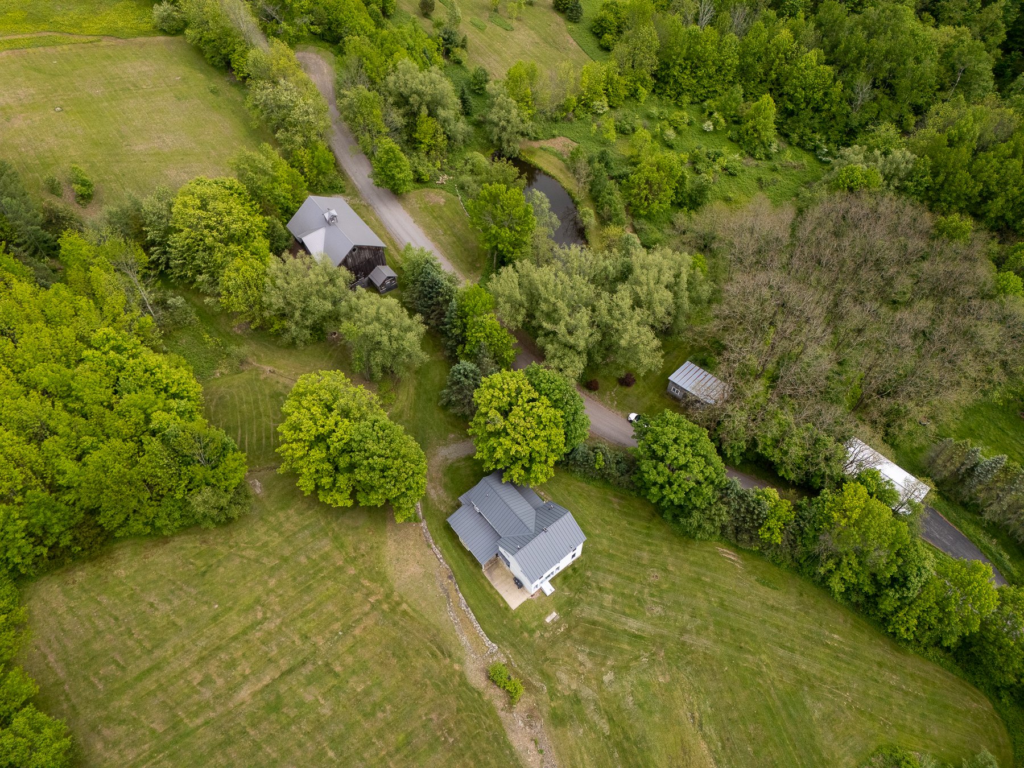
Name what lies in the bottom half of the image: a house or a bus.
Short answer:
house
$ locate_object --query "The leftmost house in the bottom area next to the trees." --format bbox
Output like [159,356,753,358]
[445,473,587,594]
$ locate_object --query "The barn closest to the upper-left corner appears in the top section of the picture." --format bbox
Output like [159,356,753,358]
[287,195,386,289]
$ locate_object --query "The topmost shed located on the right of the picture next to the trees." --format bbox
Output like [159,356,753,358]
[668,357,729,411]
